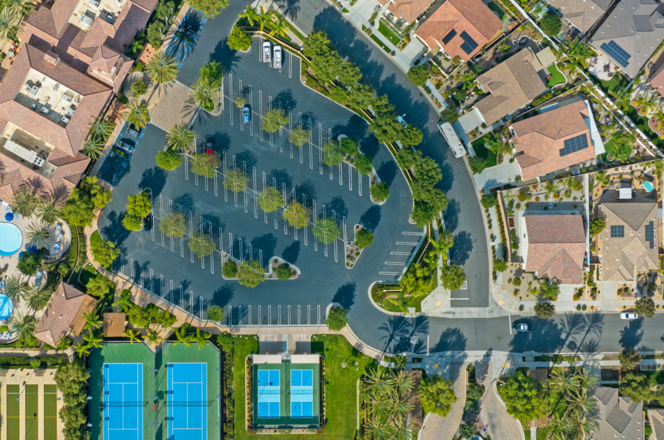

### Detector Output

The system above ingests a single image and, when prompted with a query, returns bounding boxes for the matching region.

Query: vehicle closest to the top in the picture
[180,23,198,35]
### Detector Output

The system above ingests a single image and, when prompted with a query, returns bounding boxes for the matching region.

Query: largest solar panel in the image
[560,134,588,157]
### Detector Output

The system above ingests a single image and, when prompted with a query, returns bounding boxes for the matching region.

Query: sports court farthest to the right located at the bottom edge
[285,356,320,427]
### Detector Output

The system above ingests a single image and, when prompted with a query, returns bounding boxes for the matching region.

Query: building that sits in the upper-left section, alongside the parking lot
[0,0,155,205]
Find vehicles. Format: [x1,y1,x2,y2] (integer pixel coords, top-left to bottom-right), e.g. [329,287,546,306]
[180,23,198,35]
[273,45,281,66]
[620,312,637,320]
[263,42,271,63]
[117,139,134,152]
[123,124,141,137]
[512,323,531,332]
[144,214,153,231]
[242,105,250,123]
[436,121,470,159]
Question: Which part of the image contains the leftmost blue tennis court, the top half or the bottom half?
bottom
